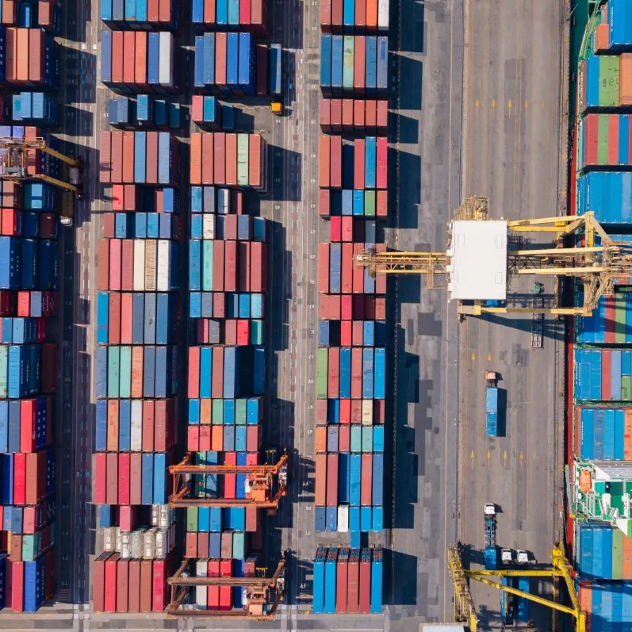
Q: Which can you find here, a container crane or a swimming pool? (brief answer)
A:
container crane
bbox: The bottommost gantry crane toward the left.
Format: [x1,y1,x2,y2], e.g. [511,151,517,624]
[167,545,289,619]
